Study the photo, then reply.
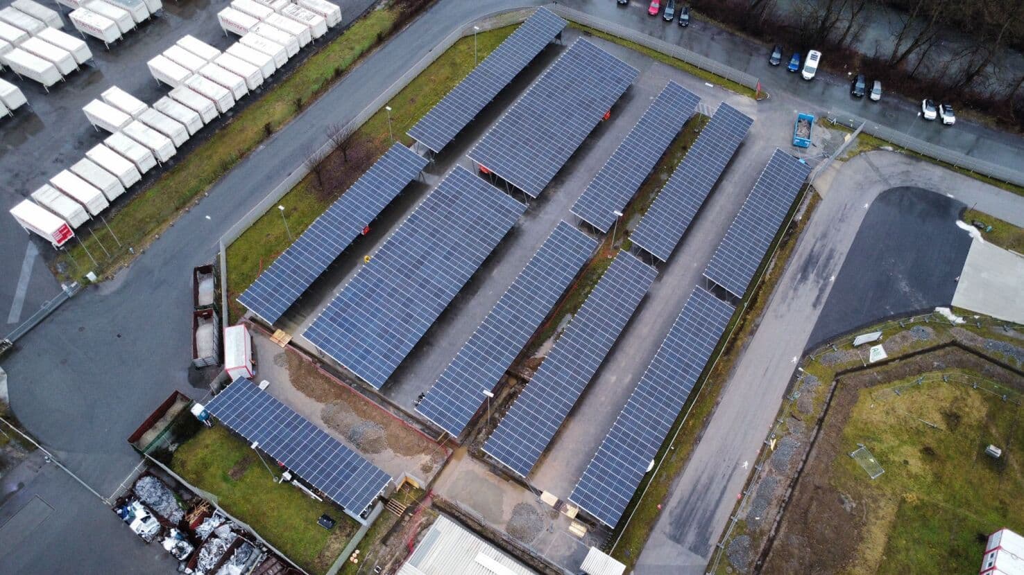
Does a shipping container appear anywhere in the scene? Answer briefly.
Yes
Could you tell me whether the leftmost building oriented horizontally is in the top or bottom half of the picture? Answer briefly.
bottom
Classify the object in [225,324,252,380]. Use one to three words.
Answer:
shipping container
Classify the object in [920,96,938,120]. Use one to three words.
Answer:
car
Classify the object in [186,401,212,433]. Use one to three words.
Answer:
work vehicle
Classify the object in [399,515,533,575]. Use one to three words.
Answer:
building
